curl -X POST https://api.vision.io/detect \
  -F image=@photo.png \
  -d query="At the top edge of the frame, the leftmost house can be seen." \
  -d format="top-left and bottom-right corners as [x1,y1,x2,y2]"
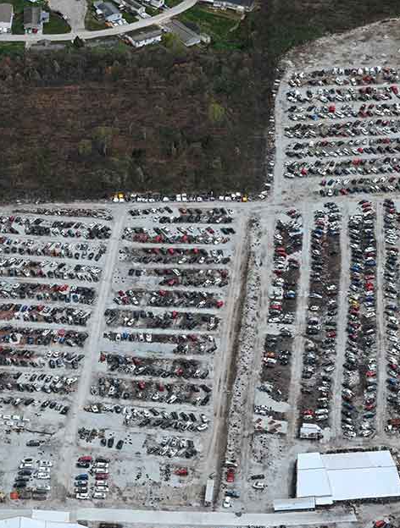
[0,1,20,36]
